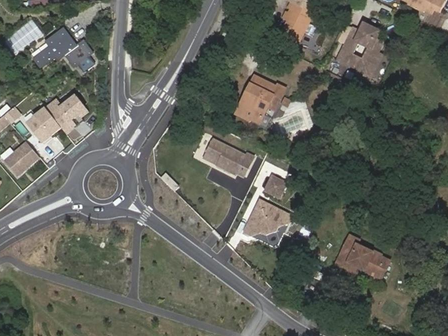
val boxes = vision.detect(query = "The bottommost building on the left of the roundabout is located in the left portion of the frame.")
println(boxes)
[2,142,40,178]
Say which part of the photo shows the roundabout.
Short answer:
left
